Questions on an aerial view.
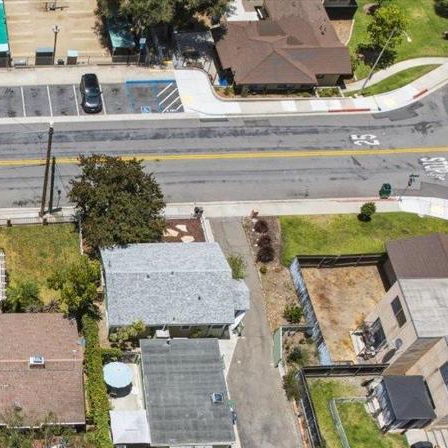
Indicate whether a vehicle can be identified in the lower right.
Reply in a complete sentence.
No, I see no vehicle in the lower right.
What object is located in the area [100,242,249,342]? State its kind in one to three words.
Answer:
house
